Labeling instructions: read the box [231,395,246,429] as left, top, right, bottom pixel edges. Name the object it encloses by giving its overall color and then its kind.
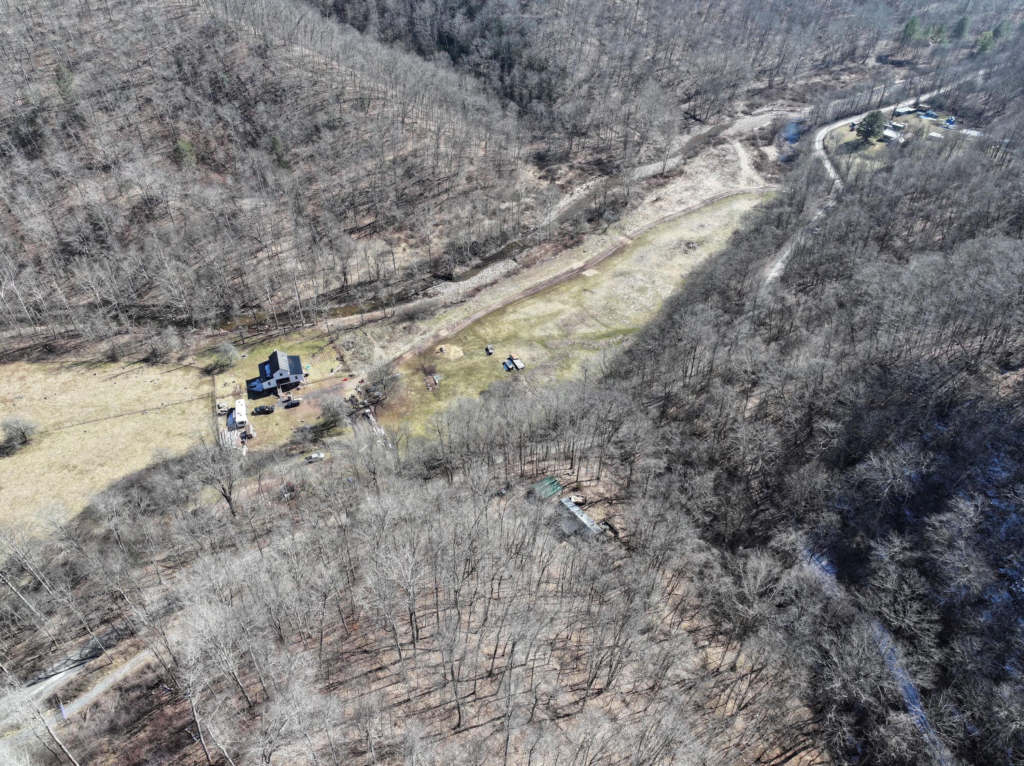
white vehicle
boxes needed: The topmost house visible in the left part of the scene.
[258,351,308,399]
